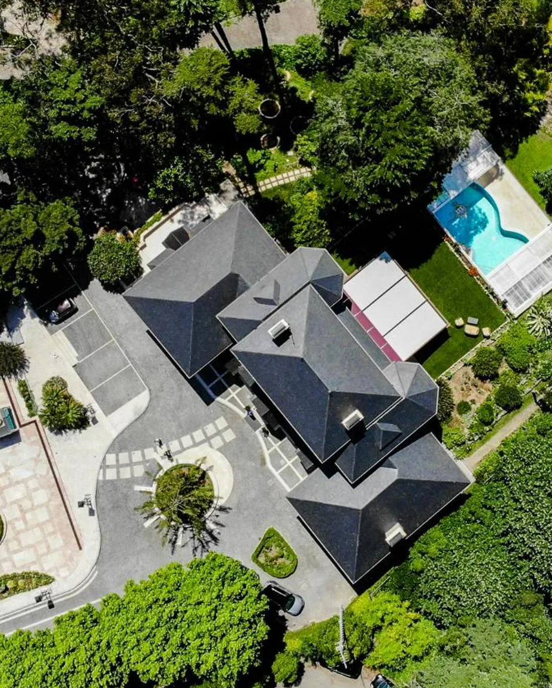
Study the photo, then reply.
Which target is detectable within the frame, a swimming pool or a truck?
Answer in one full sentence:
The one in the frame is a swimming pool.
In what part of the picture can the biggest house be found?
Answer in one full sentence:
You can find the biggest house in the center area of the picture.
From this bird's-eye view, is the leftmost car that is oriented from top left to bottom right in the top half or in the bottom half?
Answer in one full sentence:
Seen from above, the leftmost car that is oriented from top left to bottom right lies in the bottom half of the view.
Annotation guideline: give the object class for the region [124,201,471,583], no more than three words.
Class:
house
